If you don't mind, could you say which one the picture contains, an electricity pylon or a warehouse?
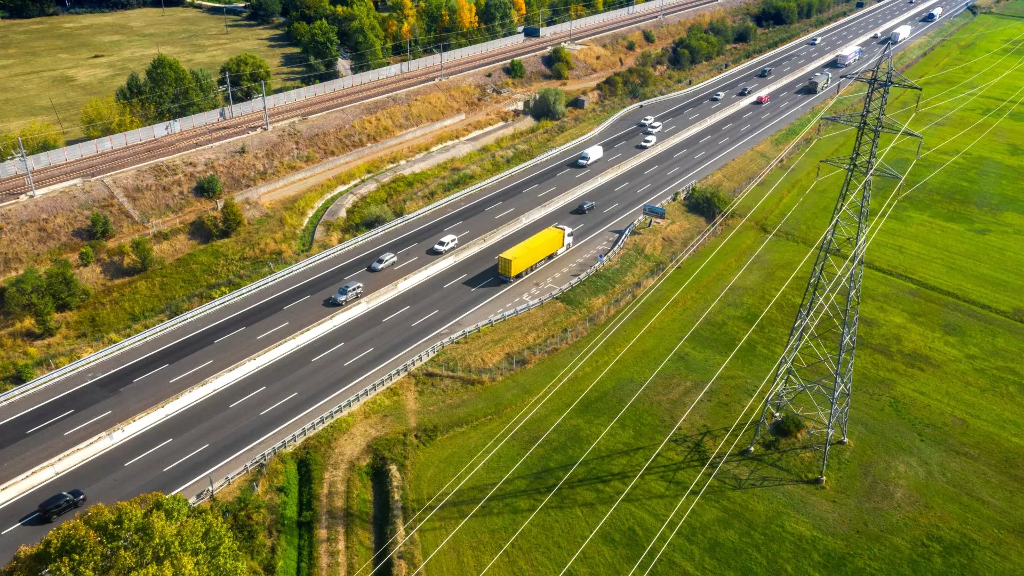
electricity pylon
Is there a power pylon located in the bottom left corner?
No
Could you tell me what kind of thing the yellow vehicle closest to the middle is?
truck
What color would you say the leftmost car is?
black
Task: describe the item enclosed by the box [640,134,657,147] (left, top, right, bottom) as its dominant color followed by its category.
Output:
white vehicle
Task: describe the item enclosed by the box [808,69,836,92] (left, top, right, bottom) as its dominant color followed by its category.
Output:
gray truck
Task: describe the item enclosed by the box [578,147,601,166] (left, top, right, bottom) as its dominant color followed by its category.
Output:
white vehicle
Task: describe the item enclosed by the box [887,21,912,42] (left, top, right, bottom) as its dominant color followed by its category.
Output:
white truck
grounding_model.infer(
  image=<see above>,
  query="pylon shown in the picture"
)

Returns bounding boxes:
[744,41,925,487]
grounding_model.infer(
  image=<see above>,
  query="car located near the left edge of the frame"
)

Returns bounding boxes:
[29,486,91,526]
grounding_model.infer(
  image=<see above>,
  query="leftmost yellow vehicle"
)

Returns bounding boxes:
[498,226,574,281]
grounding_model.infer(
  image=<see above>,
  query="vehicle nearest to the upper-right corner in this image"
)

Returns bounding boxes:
[925,3,946,20]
